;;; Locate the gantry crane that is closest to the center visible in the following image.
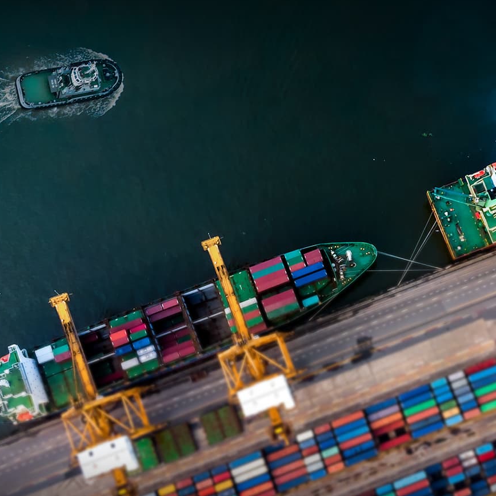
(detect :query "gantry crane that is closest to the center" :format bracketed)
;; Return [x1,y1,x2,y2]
[202,234,310,438]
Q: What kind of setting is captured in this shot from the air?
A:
port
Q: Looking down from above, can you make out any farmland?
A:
No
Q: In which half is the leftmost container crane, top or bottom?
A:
bottom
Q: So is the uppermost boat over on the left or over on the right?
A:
left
